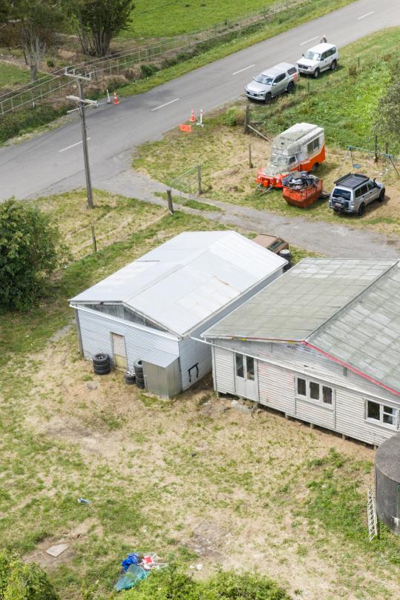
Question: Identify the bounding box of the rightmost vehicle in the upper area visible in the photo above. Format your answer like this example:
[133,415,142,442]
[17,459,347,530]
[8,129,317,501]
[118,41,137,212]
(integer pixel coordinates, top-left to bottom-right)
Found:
[323,169,390,218]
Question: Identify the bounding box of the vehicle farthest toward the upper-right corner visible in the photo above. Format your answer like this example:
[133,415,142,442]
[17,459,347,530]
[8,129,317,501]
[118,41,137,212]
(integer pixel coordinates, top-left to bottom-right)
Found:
[294,42,340,78]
